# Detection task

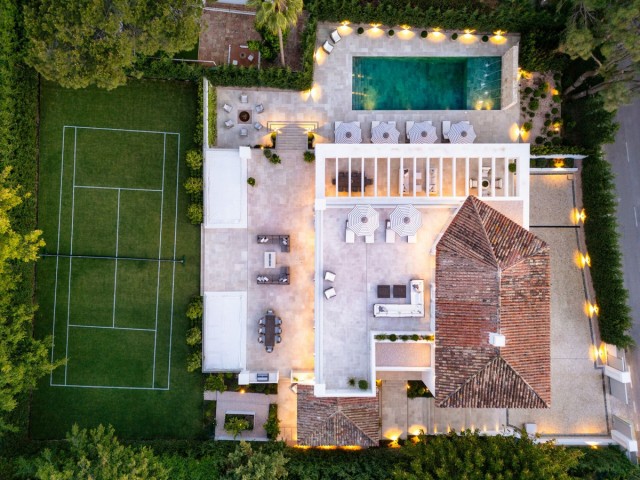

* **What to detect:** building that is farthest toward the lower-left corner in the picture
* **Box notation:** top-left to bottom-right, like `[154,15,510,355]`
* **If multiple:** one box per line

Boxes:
[203,289,250,371]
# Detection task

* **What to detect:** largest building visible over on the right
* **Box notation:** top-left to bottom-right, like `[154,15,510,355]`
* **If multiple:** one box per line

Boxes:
[314,195,552,409]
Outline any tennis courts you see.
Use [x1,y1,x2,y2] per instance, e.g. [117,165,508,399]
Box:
[32,99,191,415]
